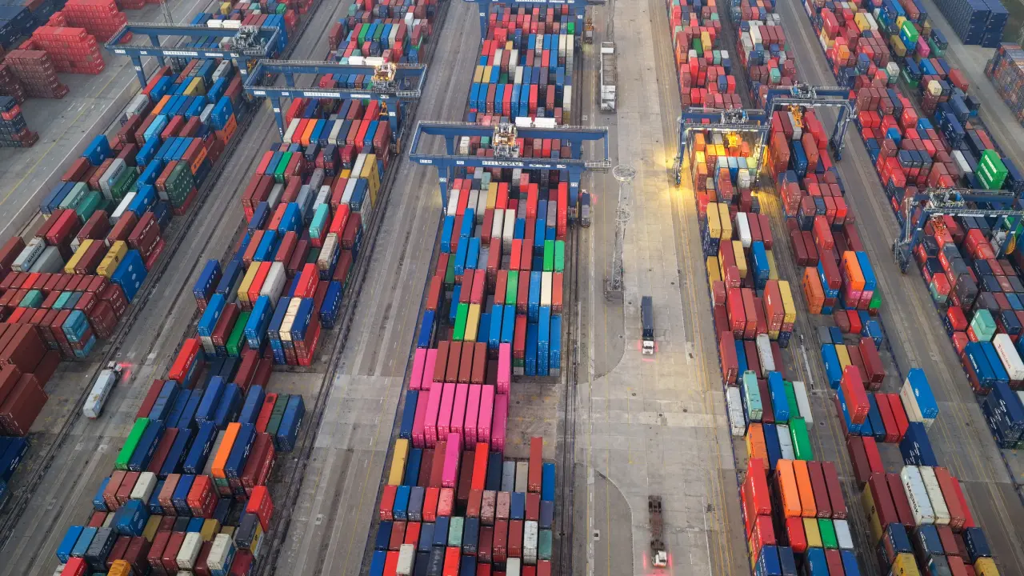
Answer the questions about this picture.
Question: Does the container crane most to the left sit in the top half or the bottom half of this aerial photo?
top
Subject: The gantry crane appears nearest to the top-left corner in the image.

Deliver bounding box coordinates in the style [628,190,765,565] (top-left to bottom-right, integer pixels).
[103,14,281,104]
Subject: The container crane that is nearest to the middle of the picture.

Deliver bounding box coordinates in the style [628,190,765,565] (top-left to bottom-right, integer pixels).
[408,109,615,224]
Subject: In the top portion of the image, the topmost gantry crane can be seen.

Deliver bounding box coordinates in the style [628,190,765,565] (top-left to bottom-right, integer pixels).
[452,0,606,57]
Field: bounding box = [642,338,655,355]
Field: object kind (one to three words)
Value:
vehicle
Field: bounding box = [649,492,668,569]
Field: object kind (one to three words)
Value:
vehicle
